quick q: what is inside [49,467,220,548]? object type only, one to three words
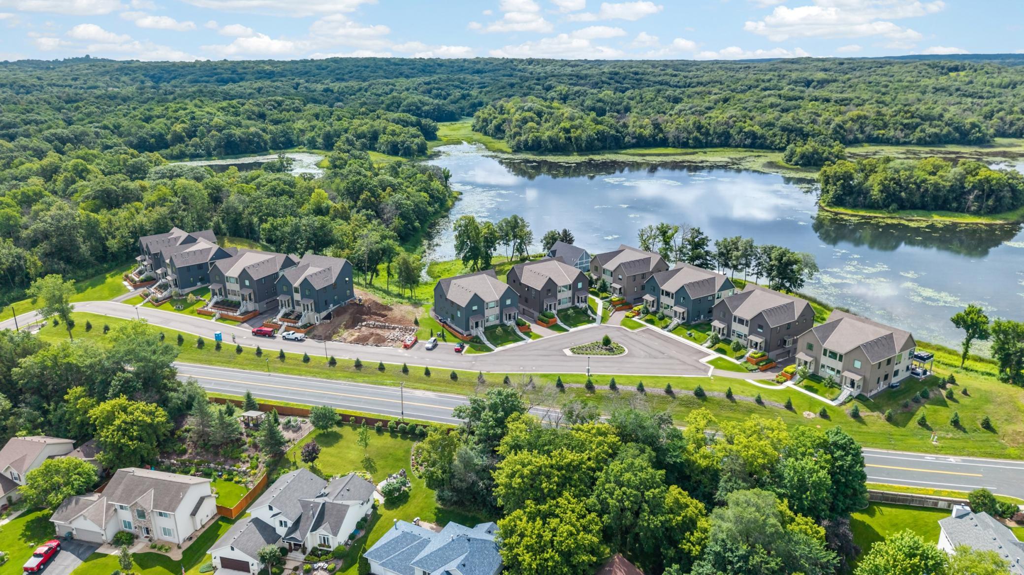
house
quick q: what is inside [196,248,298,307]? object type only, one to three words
house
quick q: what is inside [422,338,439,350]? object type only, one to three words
vehicle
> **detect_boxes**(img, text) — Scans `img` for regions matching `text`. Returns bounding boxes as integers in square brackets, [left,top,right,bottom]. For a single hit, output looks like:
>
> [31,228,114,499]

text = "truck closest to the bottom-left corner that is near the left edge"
[22,538,68,571]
